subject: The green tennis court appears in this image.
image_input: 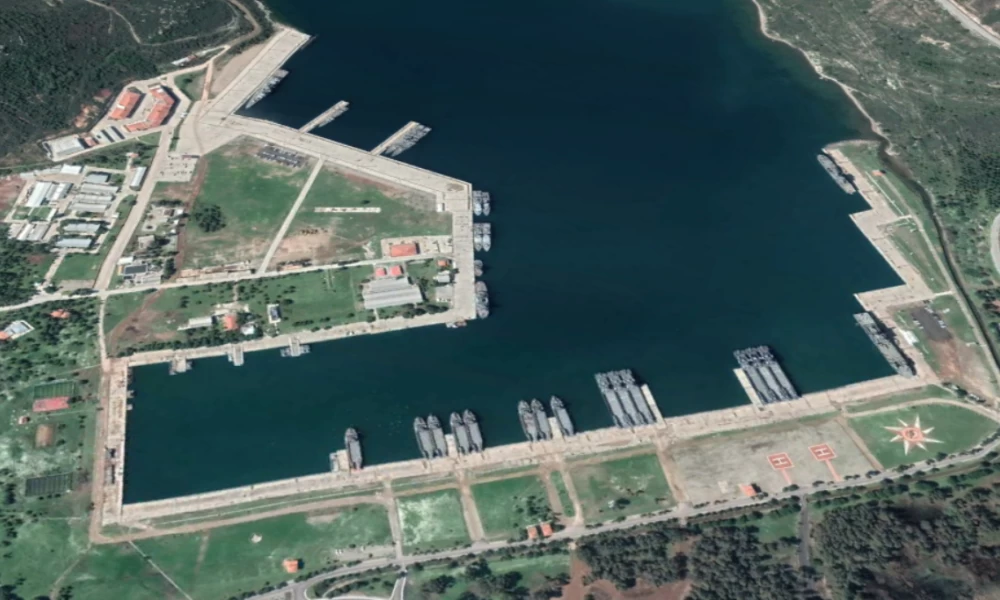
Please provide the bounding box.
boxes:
[33,379,75,400]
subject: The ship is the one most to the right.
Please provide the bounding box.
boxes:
[854,314,911,383]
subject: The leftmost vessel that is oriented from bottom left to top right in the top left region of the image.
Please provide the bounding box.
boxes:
[246,71,291,111]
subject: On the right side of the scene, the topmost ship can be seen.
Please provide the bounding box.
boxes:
[819,156,855,197]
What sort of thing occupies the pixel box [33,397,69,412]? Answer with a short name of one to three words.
basketball court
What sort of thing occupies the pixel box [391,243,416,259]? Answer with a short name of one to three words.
building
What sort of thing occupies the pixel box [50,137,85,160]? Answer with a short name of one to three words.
building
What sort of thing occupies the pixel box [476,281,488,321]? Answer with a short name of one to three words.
ship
